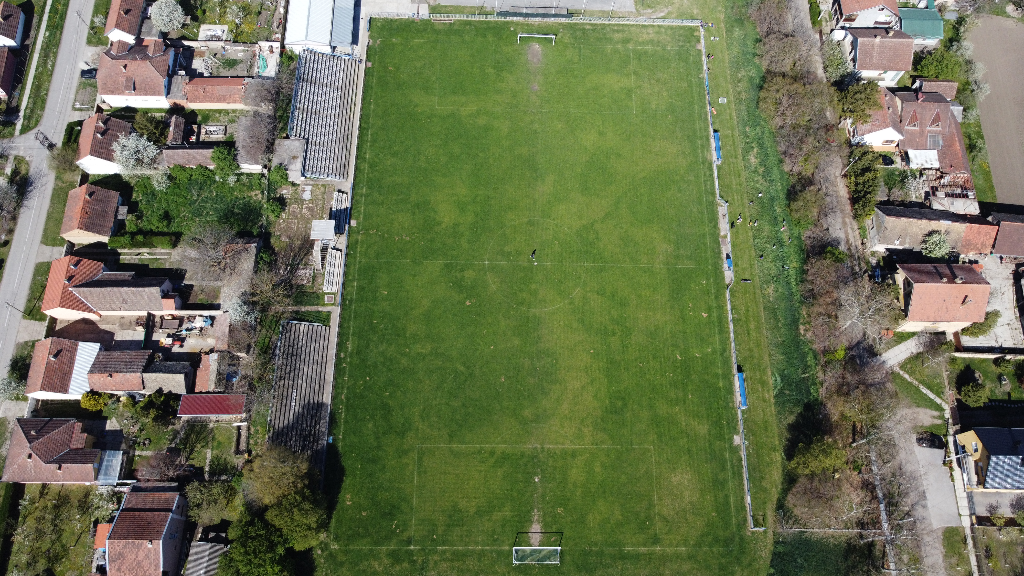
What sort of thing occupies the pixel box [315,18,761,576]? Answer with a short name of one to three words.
soccer field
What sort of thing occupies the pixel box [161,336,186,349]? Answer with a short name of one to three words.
vehicle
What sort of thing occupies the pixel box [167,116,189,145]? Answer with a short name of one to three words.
shed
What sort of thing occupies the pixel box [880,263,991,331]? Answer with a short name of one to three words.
house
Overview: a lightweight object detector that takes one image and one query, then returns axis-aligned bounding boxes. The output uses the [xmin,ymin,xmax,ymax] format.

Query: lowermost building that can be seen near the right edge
[948,427,1024,491]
